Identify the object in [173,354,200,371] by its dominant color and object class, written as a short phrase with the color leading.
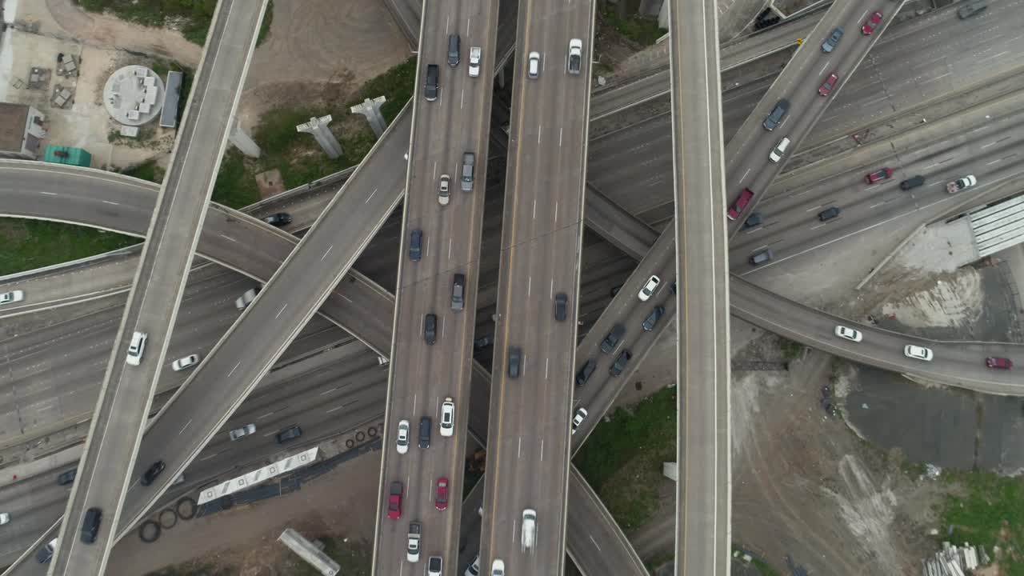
white car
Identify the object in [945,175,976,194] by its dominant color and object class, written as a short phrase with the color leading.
white vehicle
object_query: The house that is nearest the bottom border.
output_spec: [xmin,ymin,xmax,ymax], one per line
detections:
[0,103,55,161]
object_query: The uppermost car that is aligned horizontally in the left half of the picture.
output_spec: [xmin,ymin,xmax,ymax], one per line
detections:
[263,211,290,226]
